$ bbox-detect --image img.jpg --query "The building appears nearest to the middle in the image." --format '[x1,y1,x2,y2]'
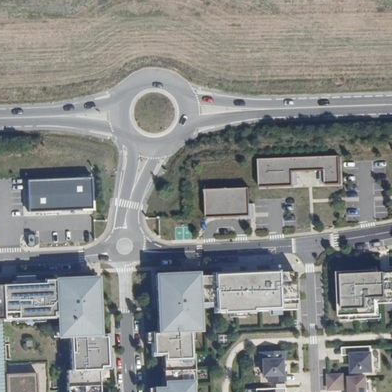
[202,186,248,218]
